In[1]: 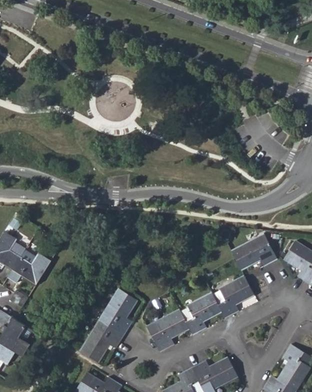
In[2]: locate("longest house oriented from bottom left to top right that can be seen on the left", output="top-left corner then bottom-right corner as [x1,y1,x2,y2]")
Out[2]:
[80,288,138,364]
